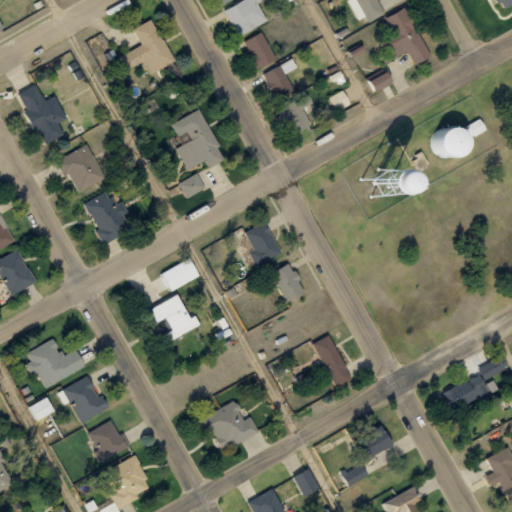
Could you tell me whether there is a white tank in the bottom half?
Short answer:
No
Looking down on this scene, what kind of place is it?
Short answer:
residential area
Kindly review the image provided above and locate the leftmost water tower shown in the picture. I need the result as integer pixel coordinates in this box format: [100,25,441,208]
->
[360,166,428,200]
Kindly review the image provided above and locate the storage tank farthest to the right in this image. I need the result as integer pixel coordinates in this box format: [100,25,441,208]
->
[432,128,473,158]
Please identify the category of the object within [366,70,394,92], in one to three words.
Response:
building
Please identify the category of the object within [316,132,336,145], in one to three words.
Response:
vehicle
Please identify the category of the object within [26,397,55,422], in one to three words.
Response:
shed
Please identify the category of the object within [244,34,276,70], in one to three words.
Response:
house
